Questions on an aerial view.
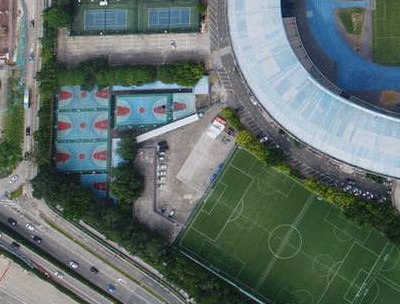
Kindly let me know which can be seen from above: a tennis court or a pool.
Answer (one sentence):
Visible in the photo is a tennis court.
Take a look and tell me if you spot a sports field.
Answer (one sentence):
Yes, a sports field can be made out from above.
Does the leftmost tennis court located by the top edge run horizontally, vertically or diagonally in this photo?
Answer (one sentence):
The leftmost tennis court located by the top edge runs horizontally in the image.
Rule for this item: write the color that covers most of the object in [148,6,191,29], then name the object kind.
blue tennis court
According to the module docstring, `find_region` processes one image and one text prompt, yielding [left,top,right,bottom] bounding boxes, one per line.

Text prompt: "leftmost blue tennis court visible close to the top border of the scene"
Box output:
[85,8,128,30]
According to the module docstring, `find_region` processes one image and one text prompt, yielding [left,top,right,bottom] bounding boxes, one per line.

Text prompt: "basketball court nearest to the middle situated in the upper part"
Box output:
[168,92,195,121]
